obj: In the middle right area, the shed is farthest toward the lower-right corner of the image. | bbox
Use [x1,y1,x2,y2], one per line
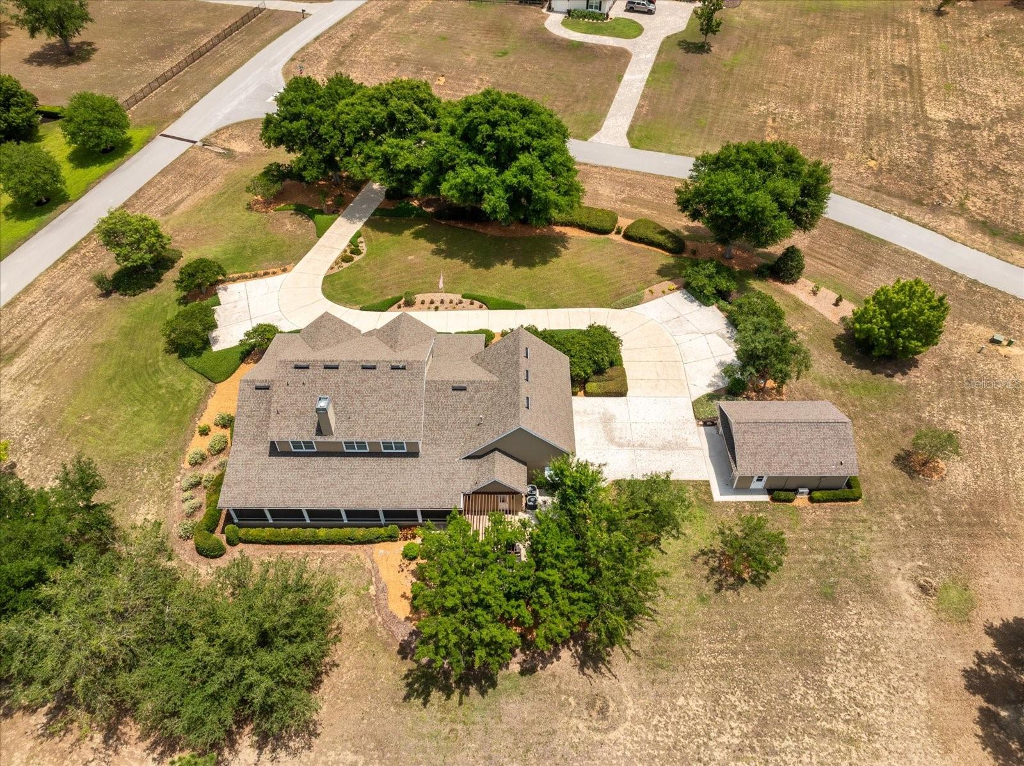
[712,399,858,491]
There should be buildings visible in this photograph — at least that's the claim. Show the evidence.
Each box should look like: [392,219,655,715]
[712,399,858,491]
[549,0,607,16]
[217,311,576,529]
